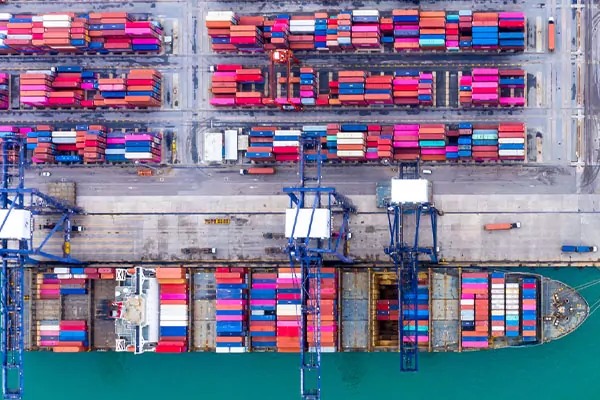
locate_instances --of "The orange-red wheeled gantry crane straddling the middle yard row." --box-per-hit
[269,45,304,114]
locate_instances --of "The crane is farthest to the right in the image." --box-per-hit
[384,162,444,374]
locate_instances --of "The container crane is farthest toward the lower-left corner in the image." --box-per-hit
[0,138,84,400]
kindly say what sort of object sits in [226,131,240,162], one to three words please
shed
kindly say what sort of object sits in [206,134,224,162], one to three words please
shed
